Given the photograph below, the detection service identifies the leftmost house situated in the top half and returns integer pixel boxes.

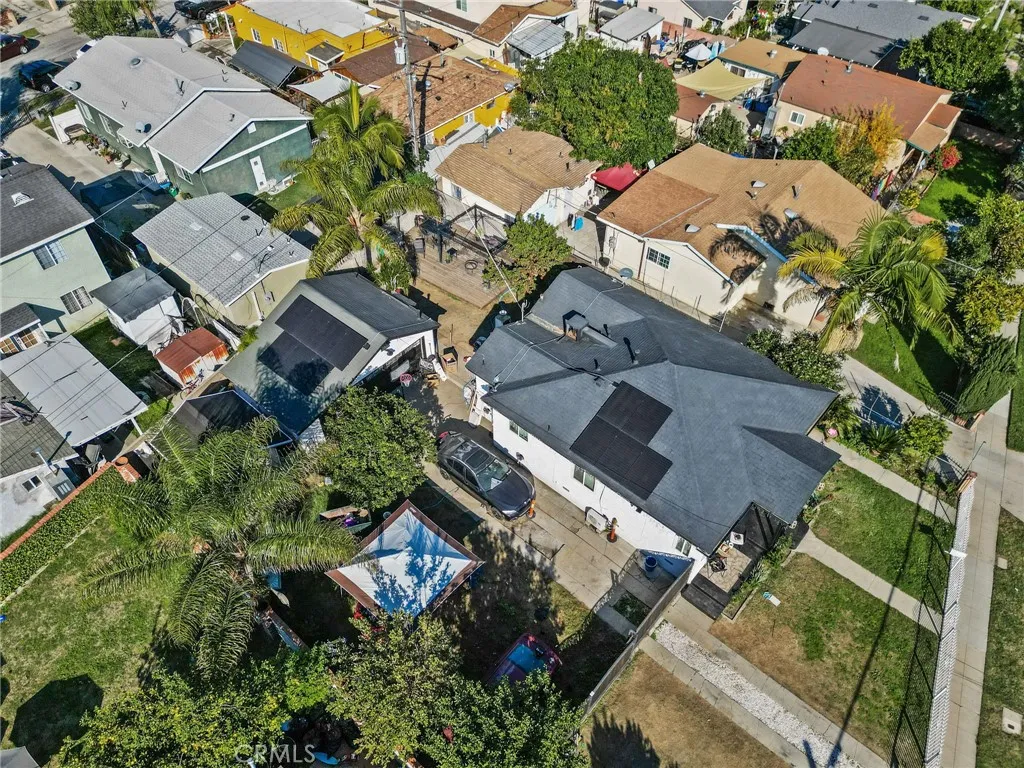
[0,142,111,361]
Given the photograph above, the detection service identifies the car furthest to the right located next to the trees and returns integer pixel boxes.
[432,431,539,522]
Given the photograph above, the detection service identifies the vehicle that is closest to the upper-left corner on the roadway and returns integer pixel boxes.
[0,30,36,56]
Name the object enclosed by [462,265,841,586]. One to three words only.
house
